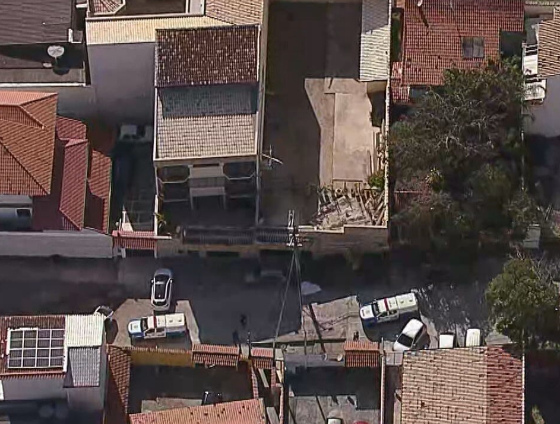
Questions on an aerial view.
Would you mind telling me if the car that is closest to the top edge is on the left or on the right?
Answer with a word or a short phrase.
left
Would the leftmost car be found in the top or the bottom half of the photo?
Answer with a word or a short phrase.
bottom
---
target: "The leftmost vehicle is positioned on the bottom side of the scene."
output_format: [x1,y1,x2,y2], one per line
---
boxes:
[97,303,122,329]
